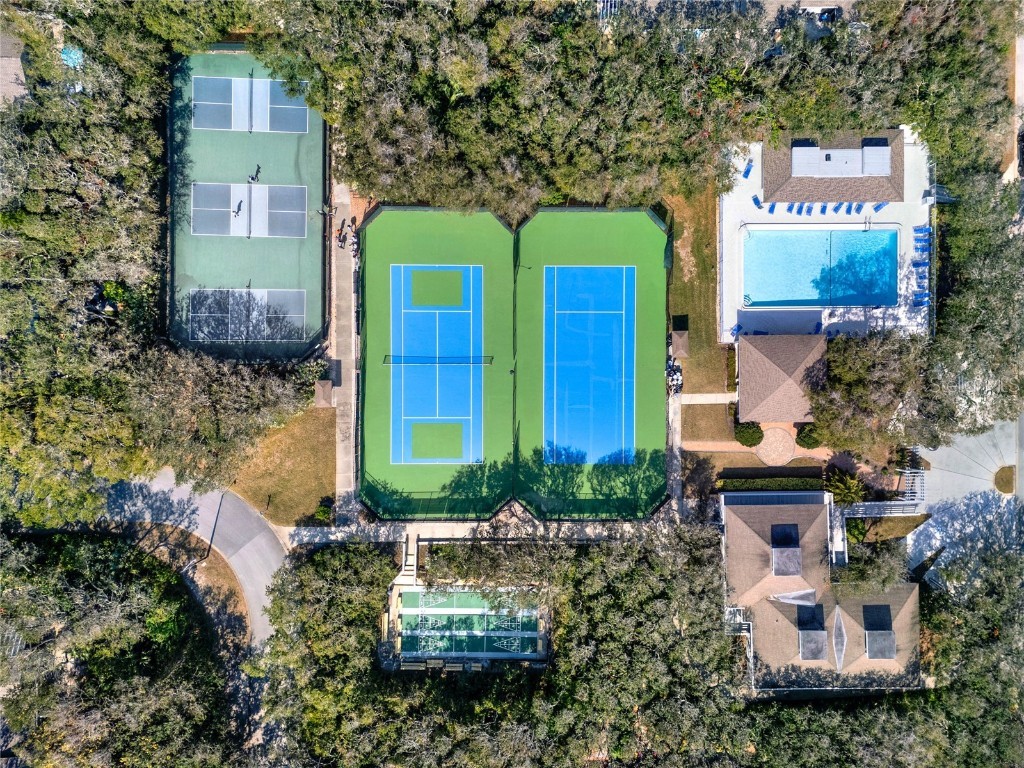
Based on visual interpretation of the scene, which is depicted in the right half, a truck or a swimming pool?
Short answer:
swimming pool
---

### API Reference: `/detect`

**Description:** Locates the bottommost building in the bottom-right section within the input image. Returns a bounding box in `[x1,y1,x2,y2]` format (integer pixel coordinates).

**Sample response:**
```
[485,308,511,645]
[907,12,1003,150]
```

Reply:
[724,504,919,689]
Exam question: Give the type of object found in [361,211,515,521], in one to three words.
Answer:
tennis court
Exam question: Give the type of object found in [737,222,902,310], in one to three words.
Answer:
swimming pool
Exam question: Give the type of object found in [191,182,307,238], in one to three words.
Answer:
sports court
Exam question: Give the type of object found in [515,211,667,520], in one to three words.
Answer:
tennis court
